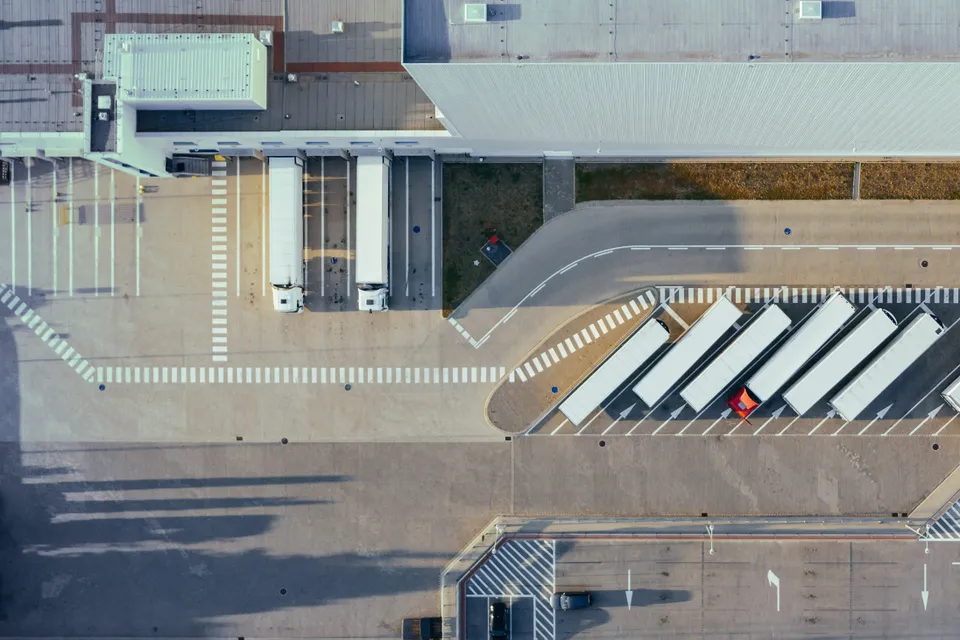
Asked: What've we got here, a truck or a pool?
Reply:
truck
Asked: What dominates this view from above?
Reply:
paved ground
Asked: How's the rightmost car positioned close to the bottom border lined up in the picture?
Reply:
from left to right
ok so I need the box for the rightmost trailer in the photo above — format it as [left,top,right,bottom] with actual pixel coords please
[934,370,960,413]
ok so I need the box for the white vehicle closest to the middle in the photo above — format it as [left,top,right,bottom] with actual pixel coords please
[357,285,389,311]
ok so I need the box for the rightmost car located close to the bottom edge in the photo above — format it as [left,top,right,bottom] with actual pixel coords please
[551,590,592,611]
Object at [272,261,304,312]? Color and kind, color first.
white truck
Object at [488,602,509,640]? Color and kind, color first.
black car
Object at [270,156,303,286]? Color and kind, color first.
white trailer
